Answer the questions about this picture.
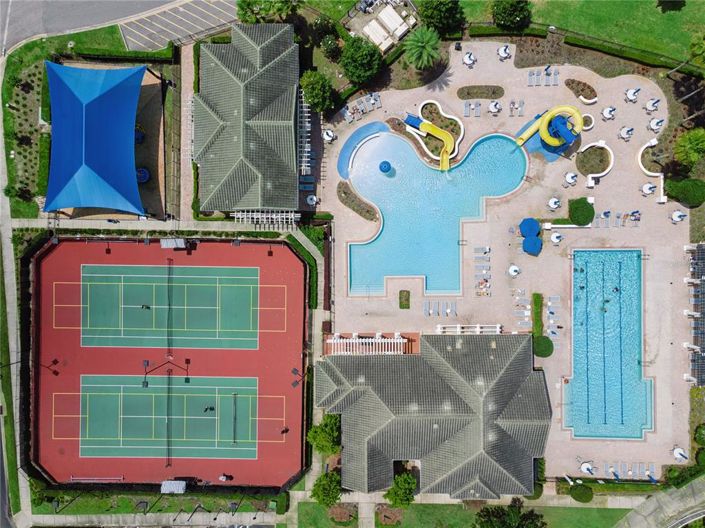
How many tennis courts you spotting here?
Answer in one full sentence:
Looking from above, you can make out 2 tennis courts.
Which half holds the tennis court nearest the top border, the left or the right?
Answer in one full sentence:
You can find the tennis court nearest the top border on the left side of the picture.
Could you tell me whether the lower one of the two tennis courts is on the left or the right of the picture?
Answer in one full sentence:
The lower one of the two tennis courts appears in the left half of the scene.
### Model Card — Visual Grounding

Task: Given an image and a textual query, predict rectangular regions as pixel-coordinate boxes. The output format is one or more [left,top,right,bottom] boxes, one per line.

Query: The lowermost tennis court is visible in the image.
[34,361,304,486]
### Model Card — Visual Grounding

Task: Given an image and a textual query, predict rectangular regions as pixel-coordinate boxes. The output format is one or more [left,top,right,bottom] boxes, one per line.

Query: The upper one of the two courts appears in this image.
[34,242,304,363]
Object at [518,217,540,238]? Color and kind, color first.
blue umbrella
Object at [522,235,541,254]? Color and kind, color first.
blue umbrella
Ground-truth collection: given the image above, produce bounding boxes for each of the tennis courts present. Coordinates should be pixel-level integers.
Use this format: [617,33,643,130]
[34,242,304,363]
[34,361,304,486]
